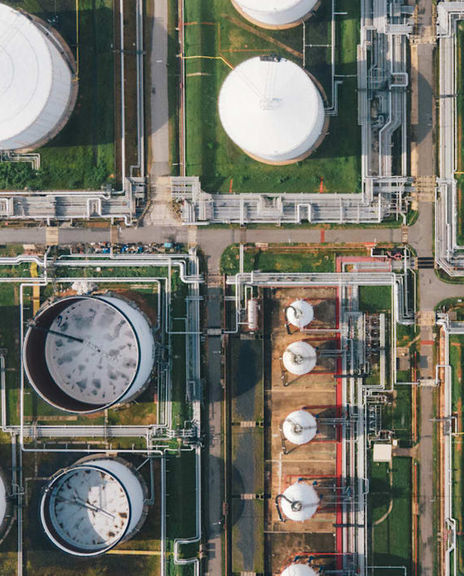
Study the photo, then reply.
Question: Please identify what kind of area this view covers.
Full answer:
This looks like an industrial area.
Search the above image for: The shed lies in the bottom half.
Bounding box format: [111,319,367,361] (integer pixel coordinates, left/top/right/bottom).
[372,445,391,463]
